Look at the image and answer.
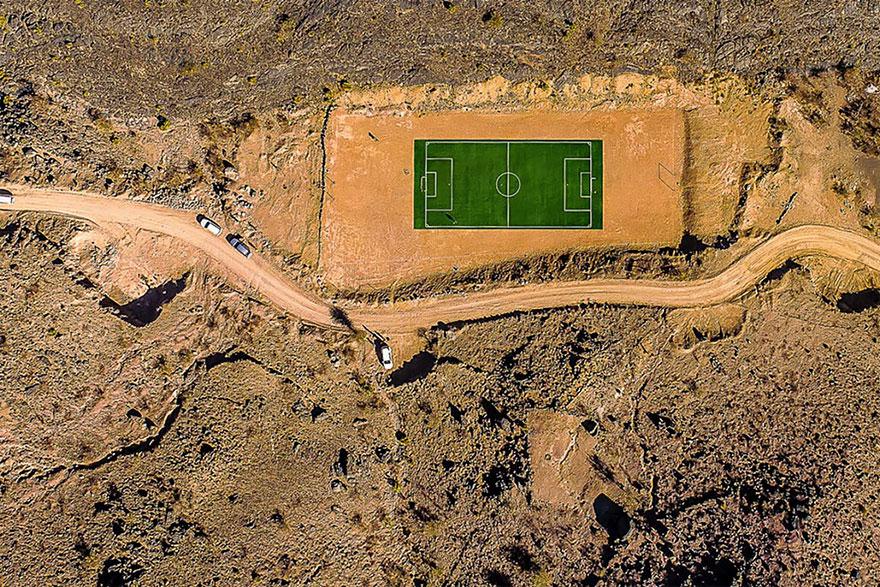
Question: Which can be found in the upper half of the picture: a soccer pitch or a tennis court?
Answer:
soccer pitch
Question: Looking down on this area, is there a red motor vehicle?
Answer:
No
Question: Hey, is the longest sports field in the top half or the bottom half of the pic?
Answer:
top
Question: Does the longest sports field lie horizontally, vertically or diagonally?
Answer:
horizontally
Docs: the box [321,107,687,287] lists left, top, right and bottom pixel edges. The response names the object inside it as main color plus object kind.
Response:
orange sports field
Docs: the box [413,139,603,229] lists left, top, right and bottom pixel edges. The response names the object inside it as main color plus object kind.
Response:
green soccer field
